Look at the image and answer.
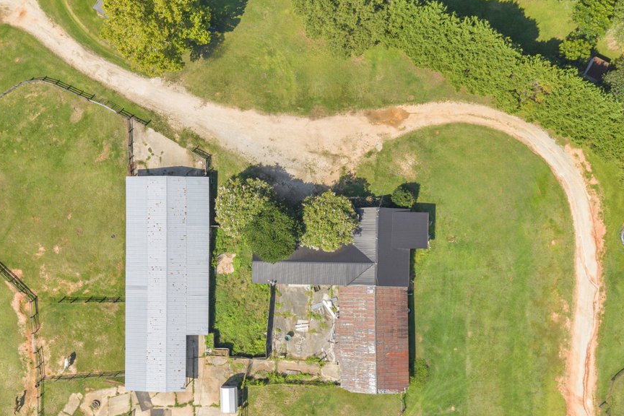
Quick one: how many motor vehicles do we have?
zero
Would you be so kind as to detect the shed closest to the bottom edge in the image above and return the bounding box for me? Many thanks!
[221,385,238,413]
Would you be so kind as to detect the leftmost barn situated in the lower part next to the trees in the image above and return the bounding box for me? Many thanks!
[125,176,210,391]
